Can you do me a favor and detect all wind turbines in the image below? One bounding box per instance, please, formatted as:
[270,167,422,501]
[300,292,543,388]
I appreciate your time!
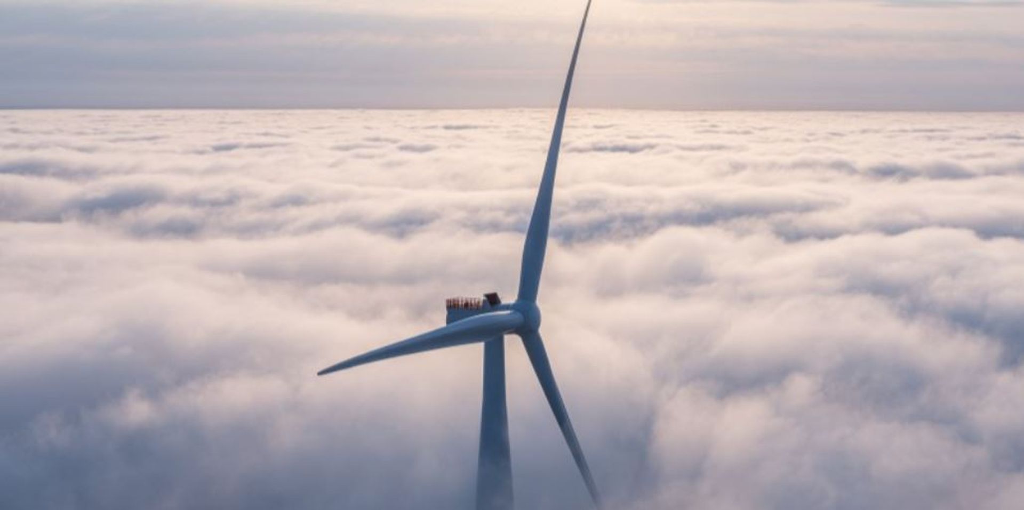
[319,0,598,510]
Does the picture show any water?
Yes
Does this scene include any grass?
No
